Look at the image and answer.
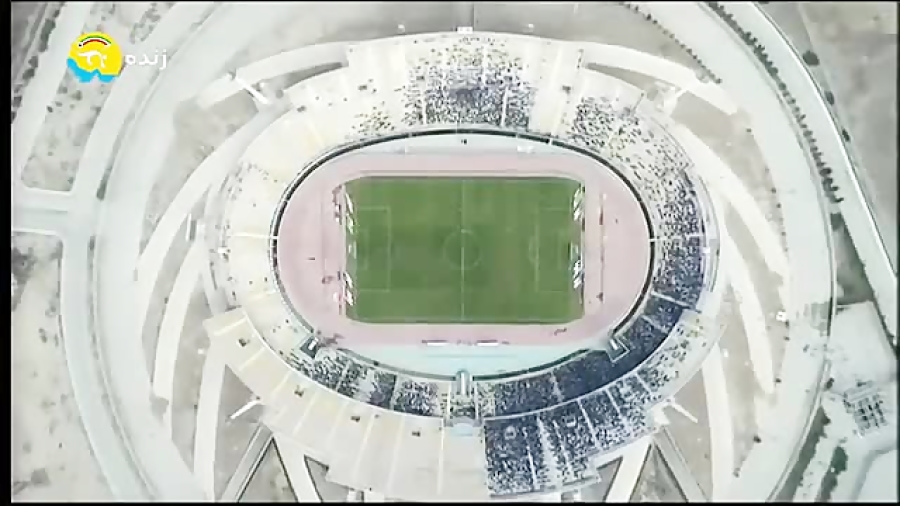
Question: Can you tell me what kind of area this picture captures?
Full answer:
This image shows a sports ground.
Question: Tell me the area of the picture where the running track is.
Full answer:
You can find the running track in the center area of the picture.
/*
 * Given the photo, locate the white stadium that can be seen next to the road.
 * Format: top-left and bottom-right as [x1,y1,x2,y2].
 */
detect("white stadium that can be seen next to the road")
[191,33,733,504]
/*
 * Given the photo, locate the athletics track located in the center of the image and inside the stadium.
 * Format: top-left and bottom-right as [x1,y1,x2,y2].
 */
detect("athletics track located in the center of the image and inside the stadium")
[275,129,655,377]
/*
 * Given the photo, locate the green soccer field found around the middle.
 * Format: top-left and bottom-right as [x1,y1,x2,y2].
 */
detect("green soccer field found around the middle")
[342,175,586,326]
